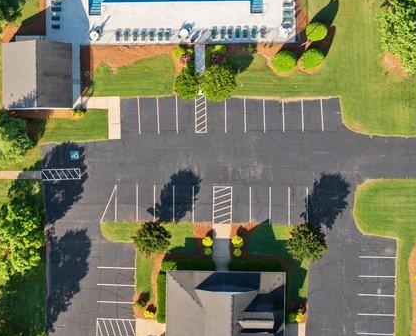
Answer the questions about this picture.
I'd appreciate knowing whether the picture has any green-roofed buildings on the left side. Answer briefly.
No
